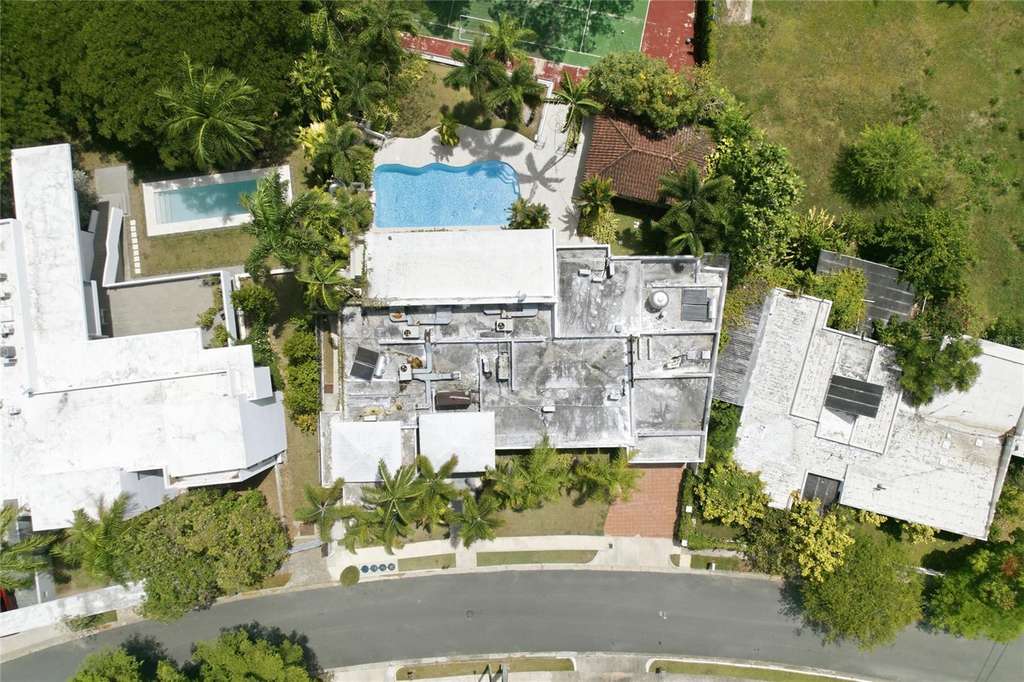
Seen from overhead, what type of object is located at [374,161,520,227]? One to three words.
swimming pool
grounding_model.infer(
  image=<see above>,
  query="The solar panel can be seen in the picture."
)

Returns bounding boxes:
[820,374,889,419]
